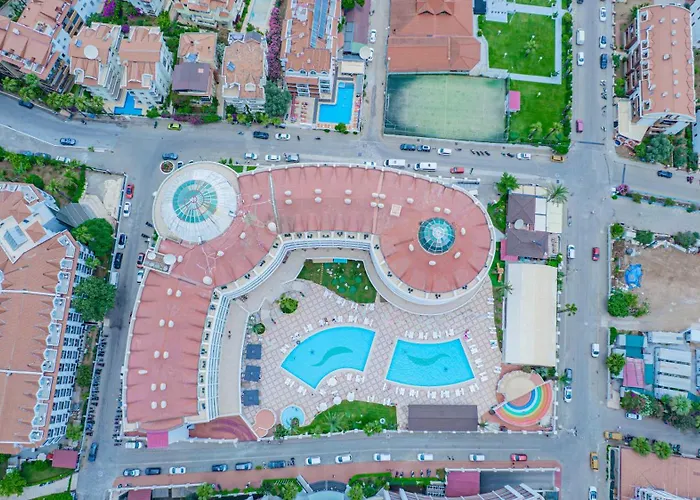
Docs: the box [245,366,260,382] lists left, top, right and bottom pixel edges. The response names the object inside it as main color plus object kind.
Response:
blue umbrella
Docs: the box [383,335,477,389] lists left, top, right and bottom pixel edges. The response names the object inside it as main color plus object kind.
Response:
blue swimming pool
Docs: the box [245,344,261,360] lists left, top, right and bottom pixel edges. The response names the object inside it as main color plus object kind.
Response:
blue umbrella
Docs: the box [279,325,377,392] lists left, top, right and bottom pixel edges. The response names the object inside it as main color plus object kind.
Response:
blue swimming pool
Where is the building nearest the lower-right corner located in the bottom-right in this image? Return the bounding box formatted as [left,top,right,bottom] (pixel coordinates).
[615,446,700,500]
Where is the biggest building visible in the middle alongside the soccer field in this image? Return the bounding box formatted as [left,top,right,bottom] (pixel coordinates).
[119,156,496,438]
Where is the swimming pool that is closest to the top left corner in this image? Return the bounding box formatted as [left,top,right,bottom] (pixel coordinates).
[112,89,142,116]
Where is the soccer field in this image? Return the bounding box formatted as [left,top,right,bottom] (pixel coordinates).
[385,70,510,140]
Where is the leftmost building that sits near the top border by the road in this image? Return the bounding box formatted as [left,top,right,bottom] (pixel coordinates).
[0,0,87,100]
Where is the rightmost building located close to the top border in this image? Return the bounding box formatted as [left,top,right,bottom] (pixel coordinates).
[623,2,696,133]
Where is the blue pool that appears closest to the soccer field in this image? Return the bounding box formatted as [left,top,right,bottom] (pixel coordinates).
[317,81,355,124]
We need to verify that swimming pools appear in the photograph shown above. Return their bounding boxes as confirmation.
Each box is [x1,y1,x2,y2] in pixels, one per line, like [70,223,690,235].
[383,335,477,389]
[278,403,308,432]
[279,325,377,392]
[317,81,355,124]
[112,89,142,116]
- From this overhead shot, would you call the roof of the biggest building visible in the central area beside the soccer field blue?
No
